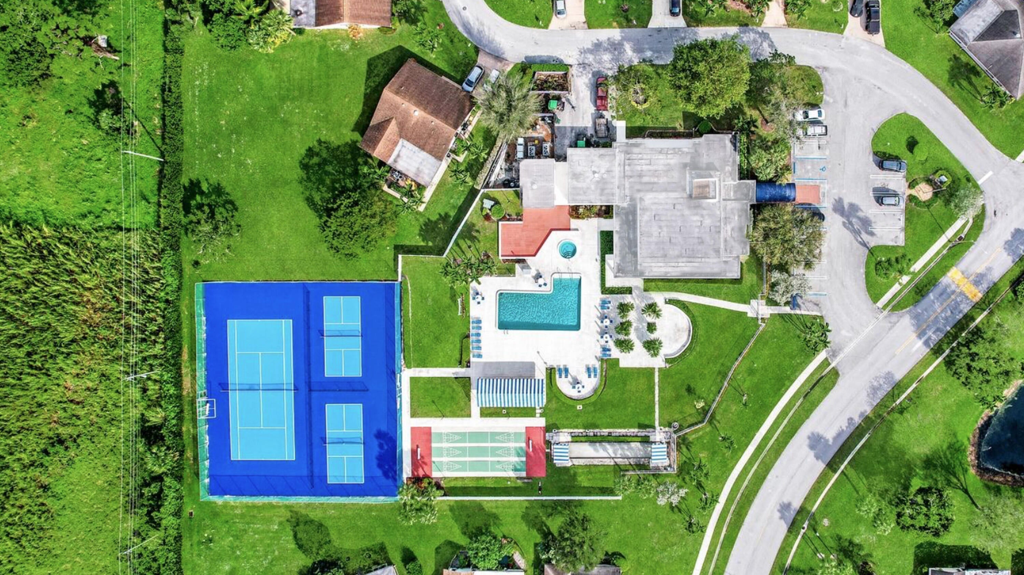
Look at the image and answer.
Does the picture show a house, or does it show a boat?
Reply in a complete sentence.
There is a house in the scene.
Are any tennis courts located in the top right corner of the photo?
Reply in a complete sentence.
No, I can find no tennis court in the top right corner of the photo.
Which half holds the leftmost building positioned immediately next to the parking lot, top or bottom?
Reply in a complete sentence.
You can find the leftmost building positioned immediately next to the parking lot in the top half.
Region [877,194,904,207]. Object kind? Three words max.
vehicle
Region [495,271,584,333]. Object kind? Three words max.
swimming pool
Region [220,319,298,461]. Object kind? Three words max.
tennis court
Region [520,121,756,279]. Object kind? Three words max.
building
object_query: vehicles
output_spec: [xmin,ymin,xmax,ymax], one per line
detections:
[877,194,904,207]
[463,64,484,93]
[877,159,907,173]
[797,124,828,138]
[554,0,566,19]
[794,109,825,122]
[848,0,865,19]
[865,0,882,35]
[482,65,502,93]
[596,76,610,111]
[668,0,681,17]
